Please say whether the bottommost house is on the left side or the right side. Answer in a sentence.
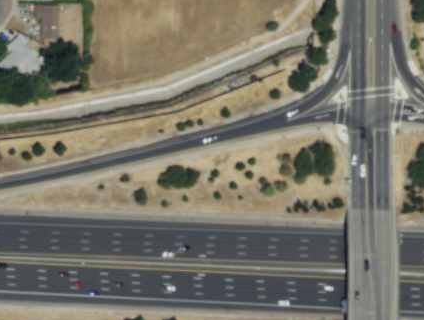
The bottommost house appears in the left half of the scene.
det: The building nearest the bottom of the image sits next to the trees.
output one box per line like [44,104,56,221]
[0,34,46,72]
